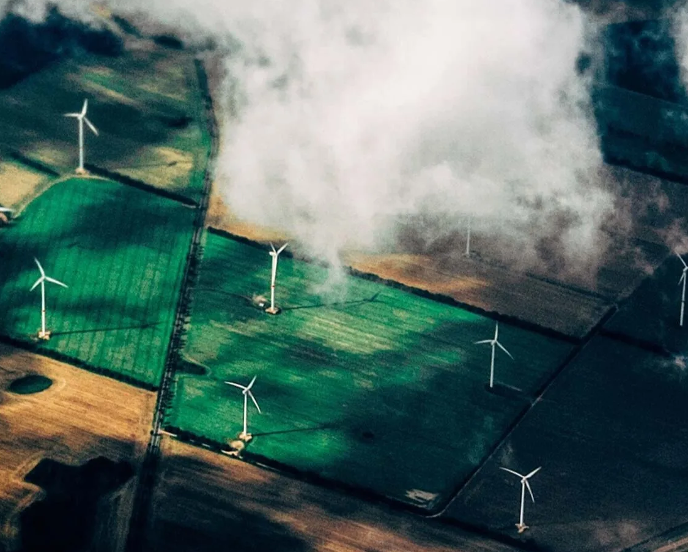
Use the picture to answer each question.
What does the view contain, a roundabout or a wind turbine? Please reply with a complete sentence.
This aerial view contains a wind turbine.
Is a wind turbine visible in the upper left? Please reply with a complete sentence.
Yes, a wind turbine appears in the upper left.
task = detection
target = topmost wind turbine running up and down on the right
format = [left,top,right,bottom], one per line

[454,177,490,255]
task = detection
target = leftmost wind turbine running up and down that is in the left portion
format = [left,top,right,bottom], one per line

[30,257,65,336]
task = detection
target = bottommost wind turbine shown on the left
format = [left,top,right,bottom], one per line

[226,374,259,436]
